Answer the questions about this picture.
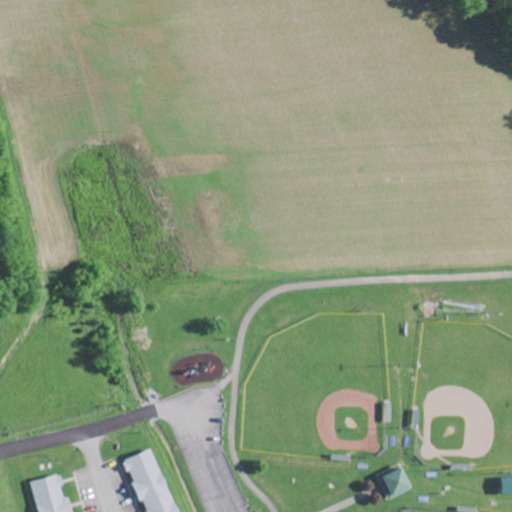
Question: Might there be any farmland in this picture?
Yes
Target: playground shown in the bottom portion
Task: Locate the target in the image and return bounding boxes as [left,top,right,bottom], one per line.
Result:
[171,353,224,386]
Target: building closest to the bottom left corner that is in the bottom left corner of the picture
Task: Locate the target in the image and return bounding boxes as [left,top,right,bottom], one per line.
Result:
[30,474,73,512]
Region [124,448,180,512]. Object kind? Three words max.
building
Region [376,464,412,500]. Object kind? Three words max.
building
